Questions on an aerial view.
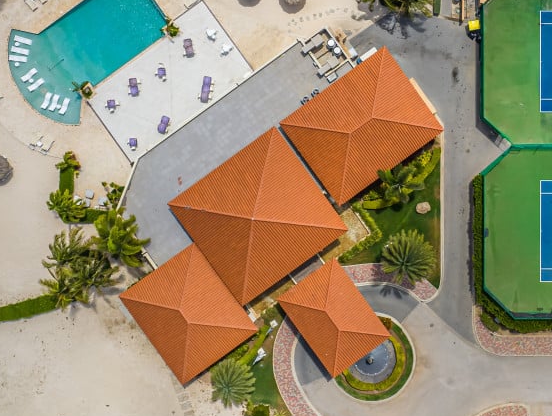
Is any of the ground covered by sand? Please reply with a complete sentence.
Yes, the picture does contain sand.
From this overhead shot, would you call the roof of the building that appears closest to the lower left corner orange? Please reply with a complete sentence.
Yes, orange is the color of the roof of the building that appears closest to the lower left corner.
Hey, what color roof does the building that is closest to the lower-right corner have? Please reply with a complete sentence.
The roof over the building that is closest to the lower-right corner appears orange.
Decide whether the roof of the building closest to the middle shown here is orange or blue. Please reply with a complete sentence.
In this view, the roof of the building closest to the middle is orange.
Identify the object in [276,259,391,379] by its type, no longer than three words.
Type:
building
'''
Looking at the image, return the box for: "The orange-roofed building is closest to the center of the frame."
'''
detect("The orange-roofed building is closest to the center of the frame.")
[167,127,348,308]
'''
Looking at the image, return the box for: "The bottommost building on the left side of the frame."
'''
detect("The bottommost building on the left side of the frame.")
[118,243,258,387]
